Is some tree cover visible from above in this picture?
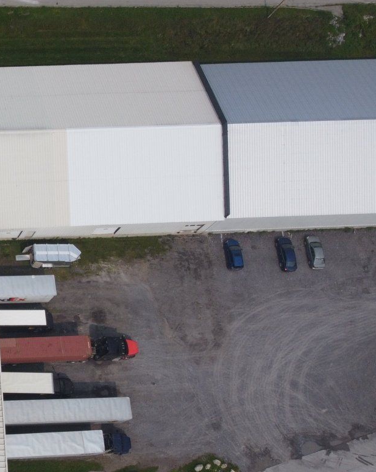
No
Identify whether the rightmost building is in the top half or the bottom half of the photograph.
top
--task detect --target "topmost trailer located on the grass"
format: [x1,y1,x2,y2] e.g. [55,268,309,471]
[11,244,85,269]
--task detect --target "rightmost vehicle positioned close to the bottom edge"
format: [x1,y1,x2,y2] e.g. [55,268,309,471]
[103,425,133,453]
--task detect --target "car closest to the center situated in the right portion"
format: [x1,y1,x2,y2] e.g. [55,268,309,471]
[223,239,247,270]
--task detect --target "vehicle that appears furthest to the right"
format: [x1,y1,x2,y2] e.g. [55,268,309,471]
[304,236,328,269]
